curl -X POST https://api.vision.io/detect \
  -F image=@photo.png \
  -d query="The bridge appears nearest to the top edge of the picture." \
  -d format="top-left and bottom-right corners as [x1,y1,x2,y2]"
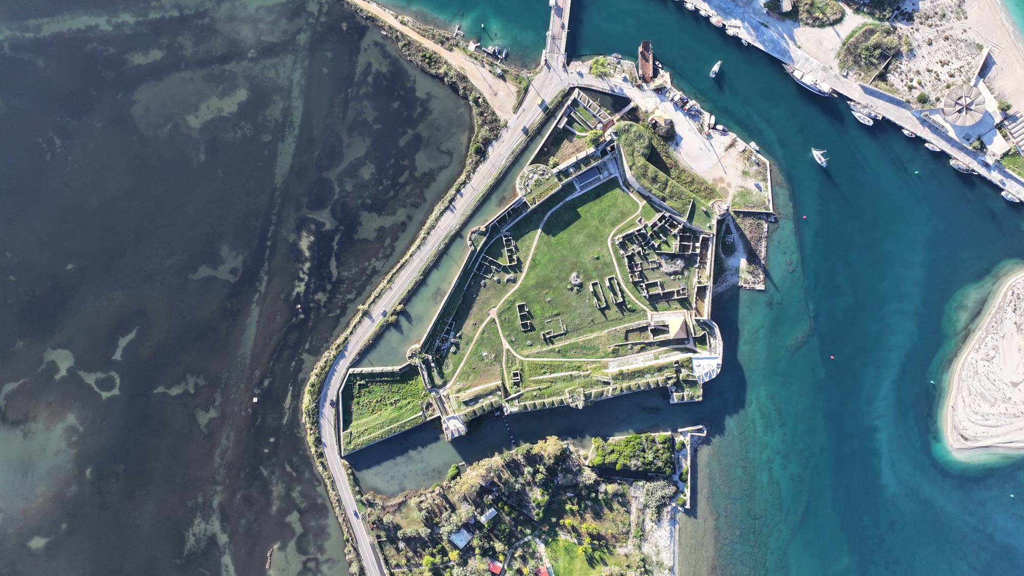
[545,0,571,57]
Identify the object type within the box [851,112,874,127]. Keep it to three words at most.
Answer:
boat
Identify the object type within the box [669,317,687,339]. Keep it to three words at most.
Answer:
house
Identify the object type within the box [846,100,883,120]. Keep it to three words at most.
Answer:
boat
